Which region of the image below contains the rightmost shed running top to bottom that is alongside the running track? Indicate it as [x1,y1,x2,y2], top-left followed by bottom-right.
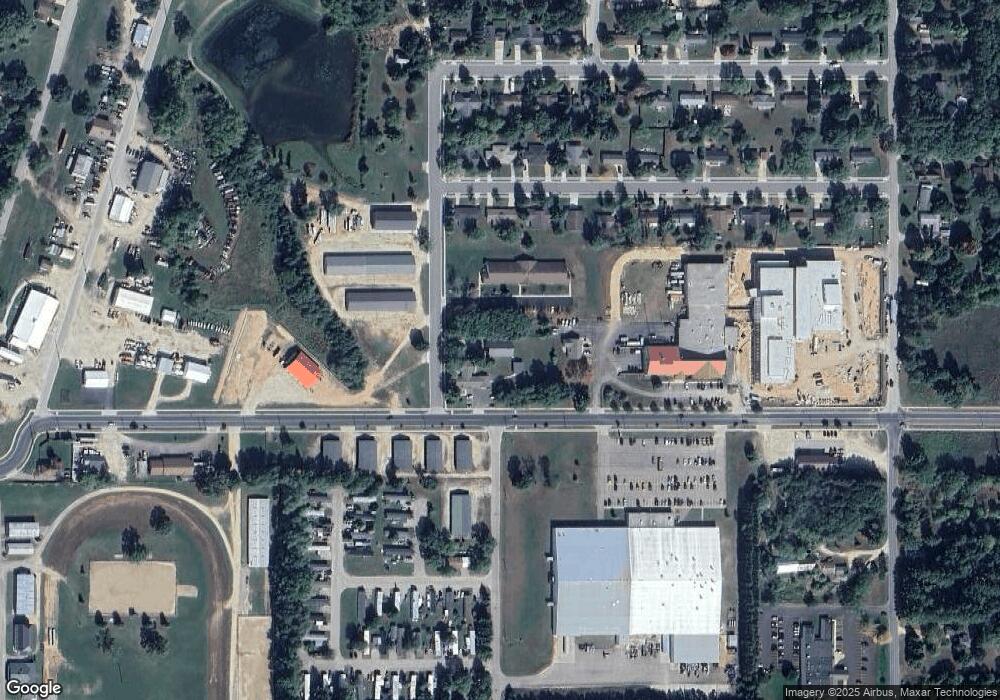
[248,498,270,567]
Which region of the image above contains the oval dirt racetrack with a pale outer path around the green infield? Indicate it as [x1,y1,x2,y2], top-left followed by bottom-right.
[36,486,236,700]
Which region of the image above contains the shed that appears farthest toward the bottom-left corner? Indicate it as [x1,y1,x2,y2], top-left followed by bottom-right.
[8,662,36,684]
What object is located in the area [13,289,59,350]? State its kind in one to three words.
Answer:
building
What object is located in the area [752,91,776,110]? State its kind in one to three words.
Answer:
house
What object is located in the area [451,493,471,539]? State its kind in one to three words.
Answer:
shed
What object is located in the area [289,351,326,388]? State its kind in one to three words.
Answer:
barn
